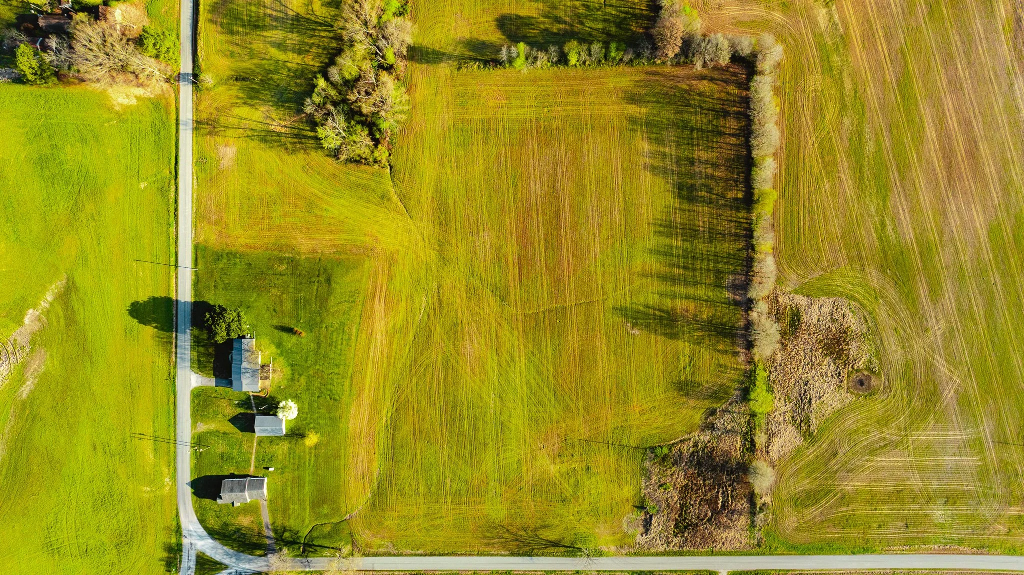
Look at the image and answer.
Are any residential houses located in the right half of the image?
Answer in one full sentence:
No, in the right half of the image there is no residential house.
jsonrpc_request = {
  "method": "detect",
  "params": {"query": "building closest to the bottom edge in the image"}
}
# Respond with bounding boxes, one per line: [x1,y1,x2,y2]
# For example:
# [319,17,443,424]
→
[219,476,269,507]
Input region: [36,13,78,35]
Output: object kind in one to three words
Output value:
shed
